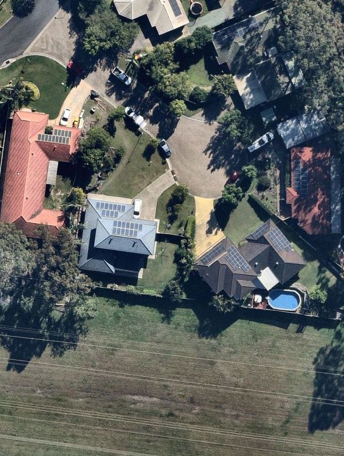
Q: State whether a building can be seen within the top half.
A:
Yes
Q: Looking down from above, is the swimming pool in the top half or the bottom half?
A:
bottom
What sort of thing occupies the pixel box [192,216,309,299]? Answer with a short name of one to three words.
house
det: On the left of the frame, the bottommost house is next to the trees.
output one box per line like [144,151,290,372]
[78,198,158,279]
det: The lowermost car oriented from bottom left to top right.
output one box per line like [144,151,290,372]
[227,167,242,185]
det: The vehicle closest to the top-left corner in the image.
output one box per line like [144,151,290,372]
[63,56,76,73]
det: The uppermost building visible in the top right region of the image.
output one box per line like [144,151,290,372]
[209,5,308,109]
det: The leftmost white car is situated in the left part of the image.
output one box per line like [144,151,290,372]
[59,107,71,126]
